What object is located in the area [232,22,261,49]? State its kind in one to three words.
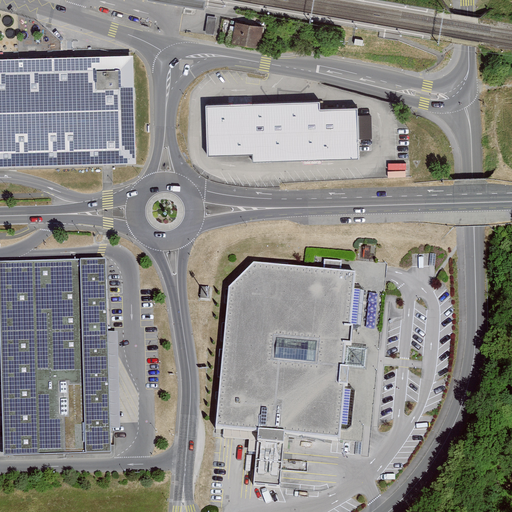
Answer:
house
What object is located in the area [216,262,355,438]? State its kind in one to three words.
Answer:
building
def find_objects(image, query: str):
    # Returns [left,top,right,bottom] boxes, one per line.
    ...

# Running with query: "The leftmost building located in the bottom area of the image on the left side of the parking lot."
[0,258,84,455]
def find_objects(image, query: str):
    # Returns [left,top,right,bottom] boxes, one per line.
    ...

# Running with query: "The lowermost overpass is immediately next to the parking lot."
[446,168,496,233]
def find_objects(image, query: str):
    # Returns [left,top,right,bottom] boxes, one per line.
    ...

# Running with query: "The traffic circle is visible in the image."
[126,172,204,250]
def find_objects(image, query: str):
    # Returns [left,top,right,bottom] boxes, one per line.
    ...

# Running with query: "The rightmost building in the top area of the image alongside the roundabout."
[206,102,359,164]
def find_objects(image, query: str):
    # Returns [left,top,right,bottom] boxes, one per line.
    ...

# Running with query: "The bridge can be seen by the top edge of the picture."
[444,6,492,52]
